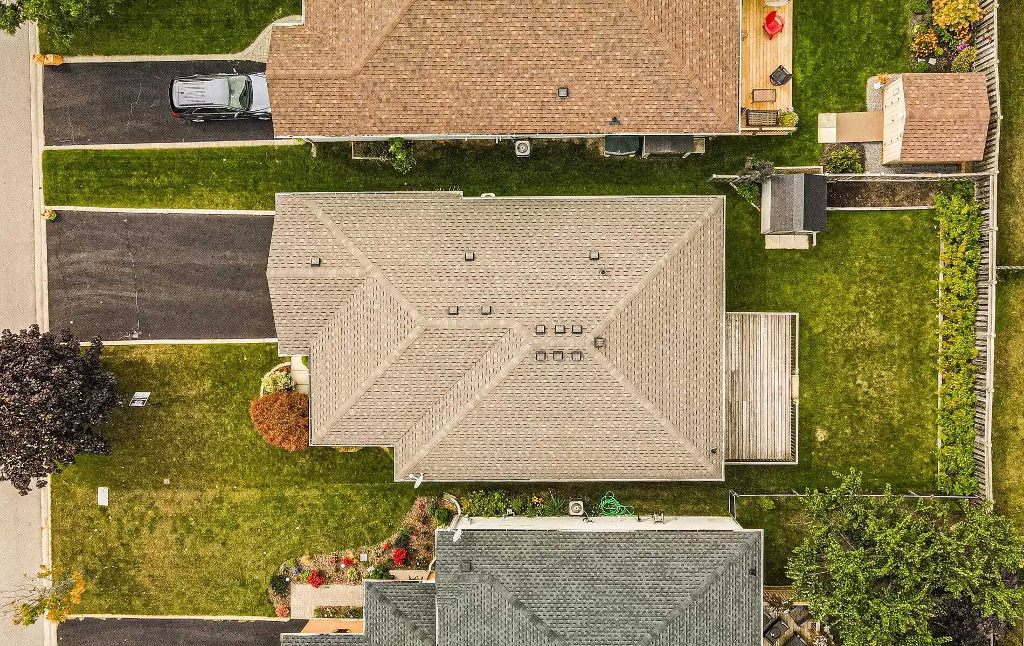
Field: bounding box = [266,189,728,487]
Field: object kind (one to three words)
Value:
house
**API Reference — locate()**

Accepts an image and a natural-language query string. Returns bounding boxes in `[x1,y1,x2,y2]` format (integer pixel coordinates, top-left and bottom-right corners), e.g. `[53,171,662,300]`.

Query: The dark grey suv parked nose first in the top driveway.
[167,69,272,122]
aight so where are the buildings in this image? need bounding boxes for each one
[762,173,827,246]
[267,0,743,149]
[278,497,766,646]
[882,73,992,166]
[266,189,728,487]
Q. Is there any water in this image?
No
